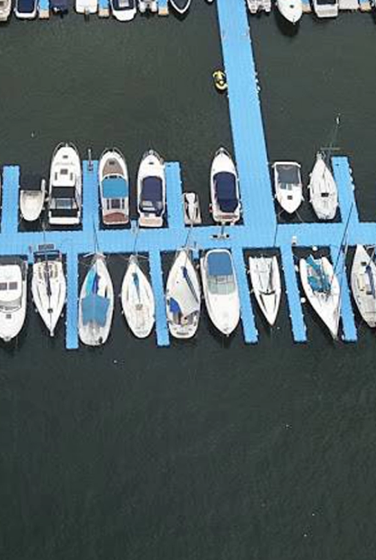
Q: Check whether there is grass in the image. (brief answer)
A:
No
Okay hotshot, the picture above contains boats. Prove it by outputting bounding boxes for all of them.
[310,0,348,23]
[184,194,200,226]
[199,248,244,339]
[51,0,69,14]
[19,176,49,223]
[295,240,346,339]
[98,148,131,235]
[47,140,84,233]
[246,236,290,324]
[346,222,376,335]
[107,0,137,26]
[31,244,69,340]
[162,221,201,346]
[275,0,305,26]
[244,0,270,19]
[78,235,115,353]
[137,149,167,234]
[306,114,340,223]
[119,226,156,341]
[271,159,302,222]
[75,0,99,20]
[13,0,39,23]
[171,0,190,16]
[139,0,160,18]
[0,257,28,340]
[208,148,247,230]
